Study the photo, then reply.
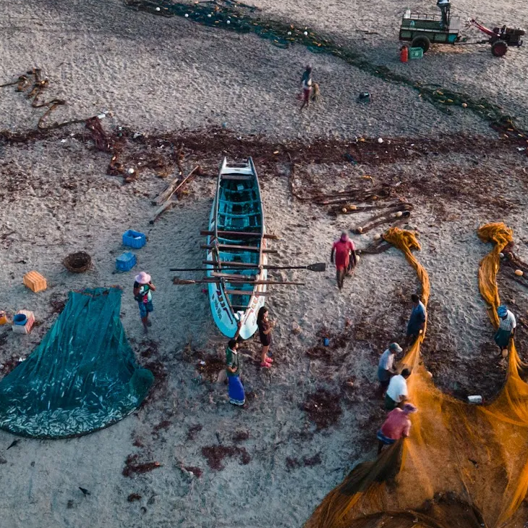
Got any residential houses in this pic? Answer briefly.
No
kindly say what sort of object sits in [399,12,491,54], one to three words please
trailer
